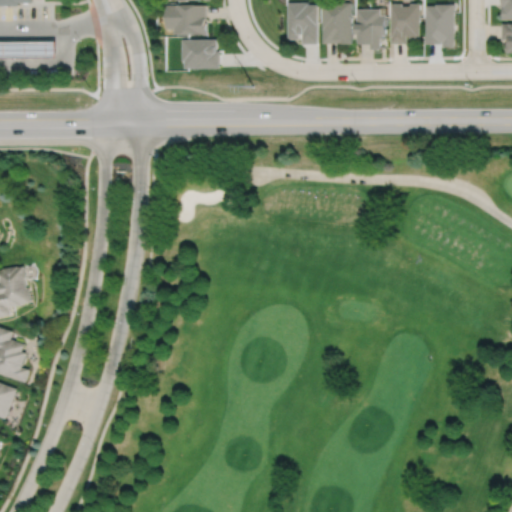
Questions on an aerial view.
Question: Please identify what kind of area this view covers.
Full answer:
The area seen from above is a golf course.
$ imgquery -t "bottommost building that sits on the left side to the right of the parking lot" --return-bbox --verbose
[182,39,222,70]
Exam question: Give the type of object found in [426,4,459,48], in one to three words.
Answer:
house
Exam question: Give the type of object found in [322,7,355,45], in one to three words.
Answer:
house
